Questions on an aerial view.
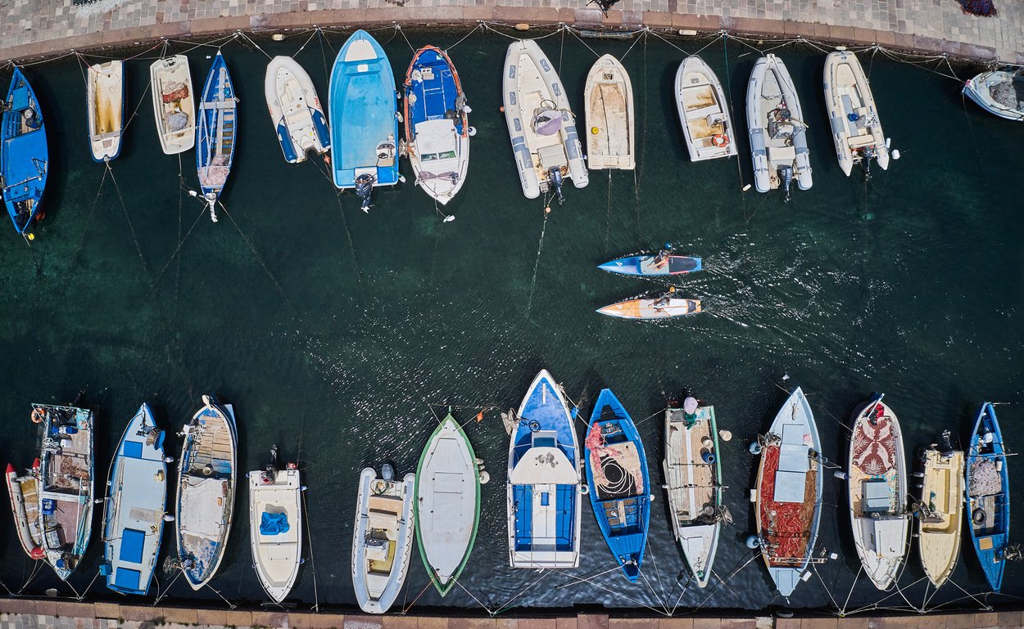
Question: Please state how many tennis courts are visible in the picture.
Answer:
0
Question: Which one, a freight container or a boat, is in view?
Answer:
boat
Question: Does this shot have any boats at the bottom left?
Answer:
Yes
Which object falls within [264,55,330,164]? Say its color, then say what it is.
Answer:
white boat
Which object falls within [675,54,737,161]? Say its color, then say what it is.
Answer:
white boat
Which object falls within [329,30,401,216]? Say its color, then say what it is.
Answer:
blue boat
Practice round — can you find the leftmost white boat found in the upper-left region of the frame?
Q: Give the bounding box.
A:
[88,61,128,162]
